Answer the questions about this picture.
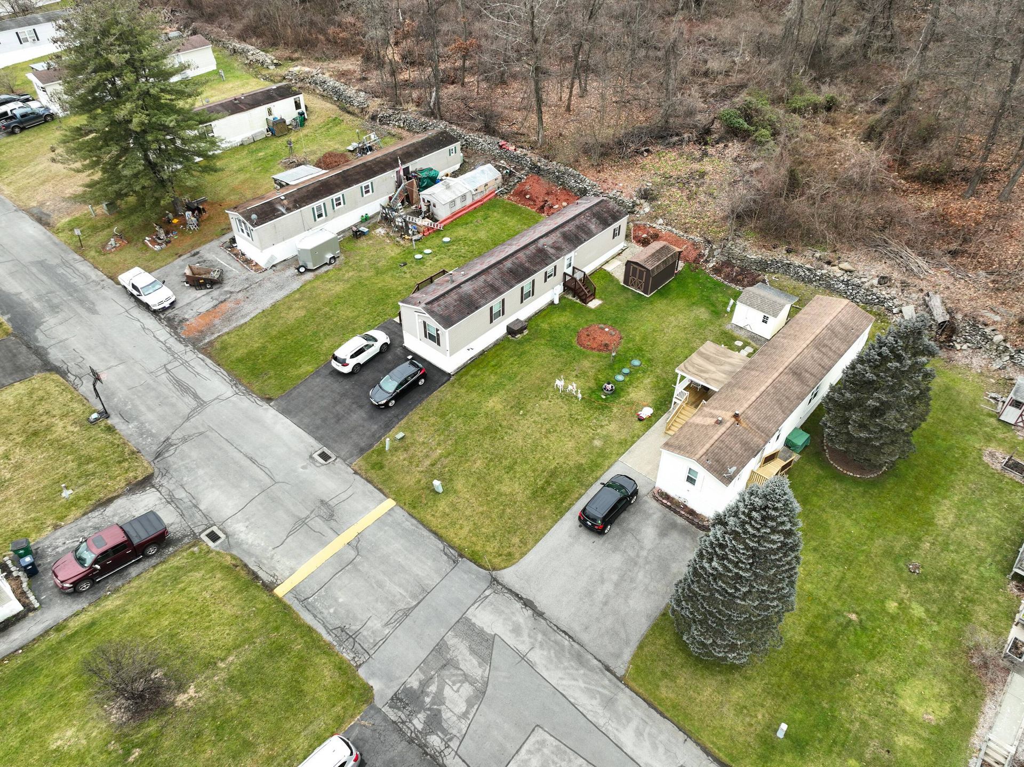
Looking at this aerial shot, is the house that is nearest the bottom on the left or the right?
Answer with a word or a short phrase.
left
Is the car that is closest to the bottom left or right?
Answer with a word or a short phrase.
left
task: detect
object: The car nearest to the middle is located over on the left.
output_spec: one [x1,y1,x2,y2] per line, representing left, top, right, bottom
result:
[371,359,427,408]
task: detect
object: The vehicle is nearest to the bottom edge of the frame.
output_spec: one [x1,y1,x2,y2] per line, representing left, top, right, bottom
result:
[297,736,364,767]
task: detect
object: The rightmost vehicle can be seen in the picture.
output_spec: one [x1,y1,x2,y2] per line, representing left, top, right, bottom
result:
[579,475,642,539]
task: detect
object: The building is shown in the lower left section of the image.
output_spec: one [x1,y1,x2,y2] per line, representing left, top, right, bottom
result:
[0,572,28,630]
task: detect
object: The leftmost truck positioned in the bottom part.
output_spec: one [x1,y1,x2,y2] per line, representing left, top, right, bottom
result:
[52,511,170,595]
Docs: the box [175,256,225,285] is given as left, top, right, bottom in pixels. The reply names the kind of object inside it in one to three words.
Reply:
trailer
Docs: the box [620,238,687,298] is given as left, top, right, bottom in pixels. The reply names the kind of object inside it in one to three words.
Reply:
shed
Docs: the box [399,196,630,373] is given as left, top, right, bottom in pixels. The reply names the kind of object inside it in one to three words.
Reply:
house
